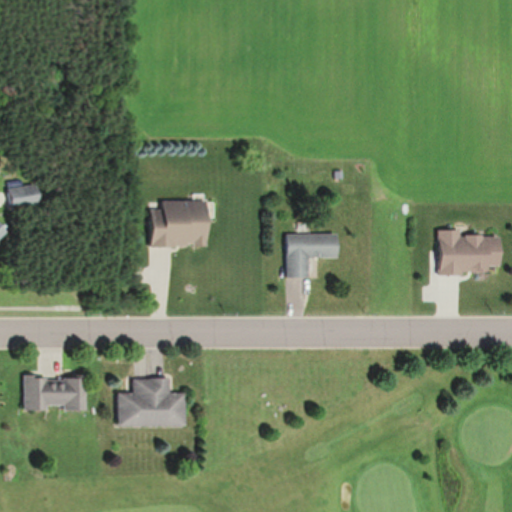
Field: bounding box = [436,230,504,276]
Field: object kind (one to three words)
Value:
house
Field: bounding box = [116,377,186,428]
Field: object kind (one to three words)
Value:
house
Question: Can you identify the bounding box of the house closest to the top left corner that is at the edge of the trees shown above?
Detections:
[5,180,42,206]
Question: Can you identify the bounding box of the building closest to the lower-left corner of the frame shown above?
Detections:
[22,375,88,412]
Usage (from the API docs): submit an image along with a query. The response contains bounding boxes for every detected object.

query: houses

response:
[436,230,504,276]
[284,234,341,278]
[148,200,211,248]
[0,216,10,242]
[5,180,42,206]
[22,375,88,412]
[116,377,186,428]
